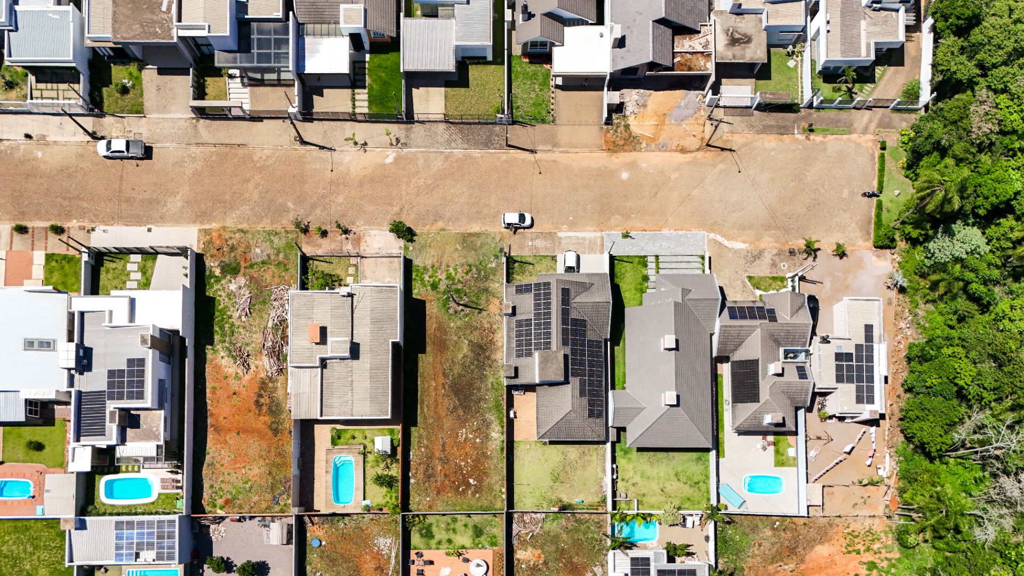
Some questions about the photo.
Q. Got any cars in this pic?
Yes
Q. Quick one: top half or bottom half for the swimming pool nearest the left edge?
bottom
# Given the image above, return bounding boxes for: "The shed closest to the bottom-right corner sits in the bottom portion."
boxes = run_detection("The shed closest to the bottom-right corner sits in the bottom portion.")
[806,484,822,506]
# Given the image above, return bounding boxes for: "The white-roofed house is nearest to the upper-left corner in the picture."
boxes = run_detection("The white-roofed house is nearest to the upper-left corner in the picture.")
[0,0,91,78]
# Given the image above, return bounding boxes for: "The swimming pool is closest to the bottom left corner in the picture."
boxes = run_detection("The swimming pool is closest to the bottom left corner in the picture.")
[0,478,34,500]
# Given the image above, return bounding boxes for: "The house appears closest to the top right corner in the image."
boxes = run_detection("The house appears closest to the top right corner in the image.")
[807,0,915,79]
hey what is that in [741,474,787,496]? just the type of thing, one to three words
swimming pool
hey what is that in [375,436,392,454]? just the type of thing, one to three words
shed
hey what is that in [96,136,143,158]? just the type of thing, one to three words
truck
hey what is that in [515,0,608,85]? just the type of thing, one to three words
house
